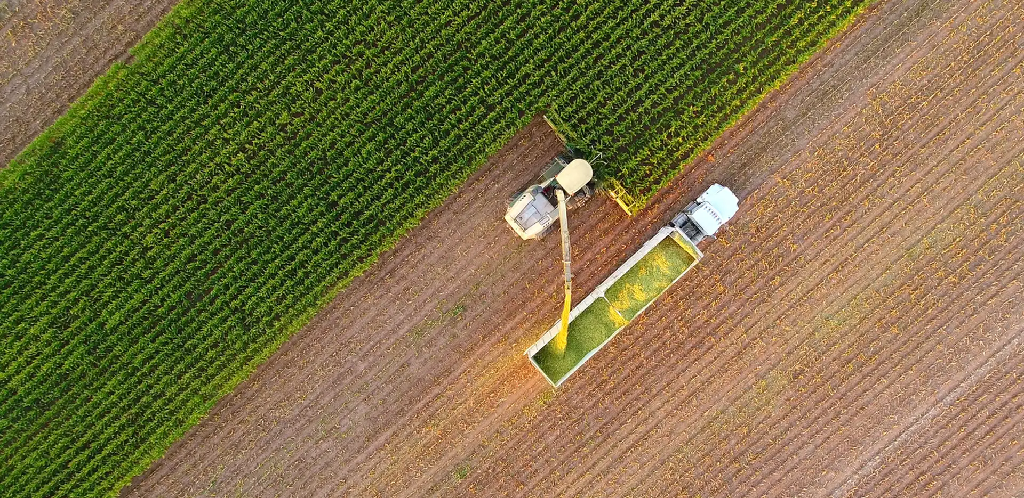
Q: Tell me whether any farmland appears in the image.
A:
Yes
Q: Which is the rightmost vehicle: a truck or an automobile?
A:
truck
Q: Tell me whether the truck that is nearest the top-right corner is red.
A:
No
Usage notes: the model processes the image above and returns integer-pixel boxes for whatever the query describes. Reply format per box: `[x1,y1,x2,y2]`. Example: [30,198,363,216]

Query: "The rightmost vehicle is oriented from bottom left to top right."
[641,184,737,247]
